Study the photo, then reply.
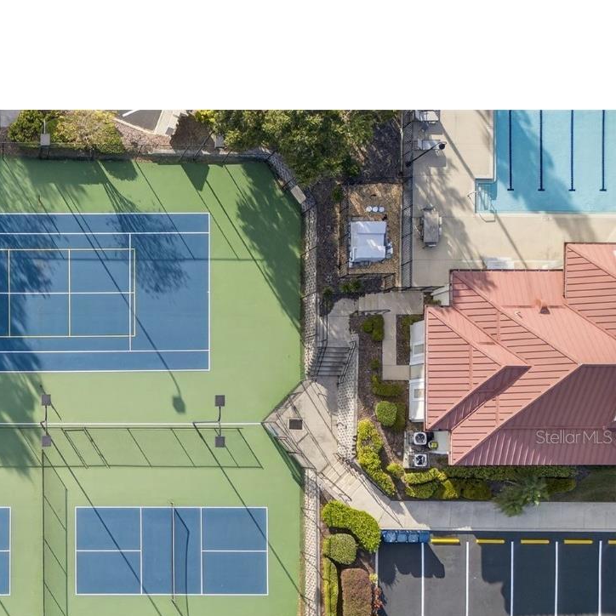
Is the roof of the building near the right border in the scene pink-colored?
Yes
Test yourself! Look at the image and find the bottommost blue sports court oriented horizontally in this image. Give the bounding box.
[76,507,267,596]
